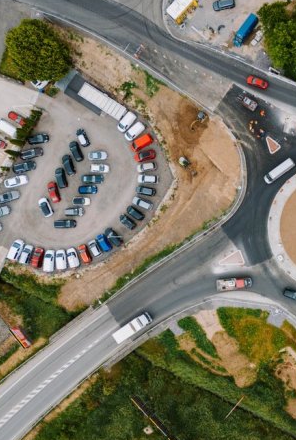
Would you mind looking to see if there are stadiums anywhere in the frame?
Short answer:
No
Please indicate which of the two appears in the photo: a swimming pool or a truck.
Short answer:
truck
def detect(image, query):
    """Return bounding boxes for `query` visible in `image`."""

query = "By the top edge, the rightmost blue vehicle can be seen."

[232,11,260,51]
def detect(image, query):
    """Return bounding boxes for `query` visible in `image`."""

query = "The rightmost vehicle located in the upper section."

[264,157,296,184]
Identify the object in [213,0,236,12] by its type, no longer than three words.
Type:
vehicle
